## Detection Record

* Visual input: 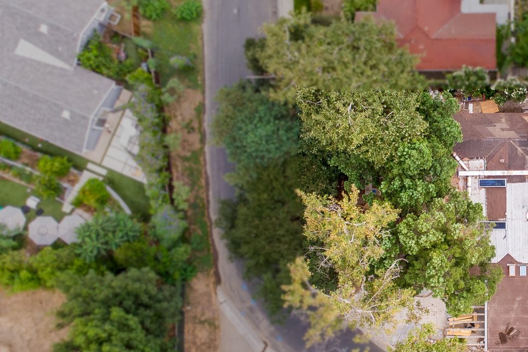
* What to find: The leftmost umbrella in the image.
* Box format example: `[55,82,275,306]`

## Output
[0,206,34,236]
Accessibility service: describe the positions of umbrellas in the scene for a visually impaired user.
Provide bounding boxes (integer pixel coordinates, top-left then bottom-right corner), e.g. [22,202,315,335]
[30,216,60,246]
[0,206,34,236]
[60,212,93,242]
